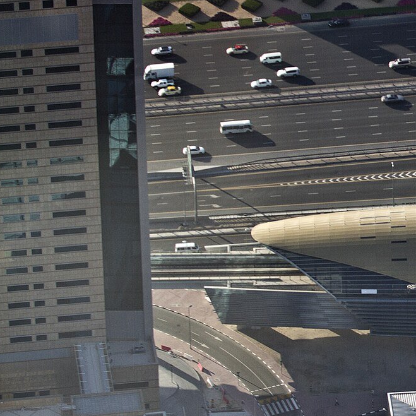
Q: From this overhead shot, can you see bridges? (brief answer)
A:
Yes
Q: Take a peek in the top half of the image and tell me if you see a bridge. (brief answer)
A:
No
